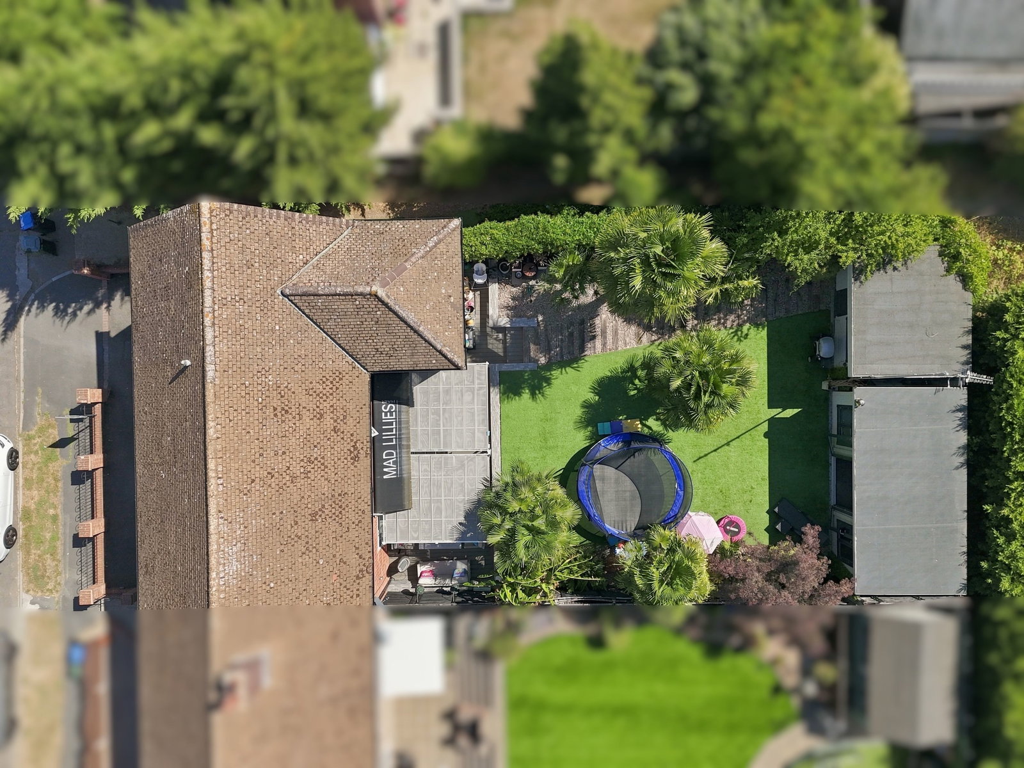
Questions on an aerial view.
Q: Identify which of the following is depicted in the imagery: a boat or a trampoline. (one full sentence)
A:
The one in the frame is a trampoline.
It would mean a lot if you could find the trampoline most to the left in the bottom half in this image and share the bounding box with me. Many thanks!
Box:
[577,431,691,547]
